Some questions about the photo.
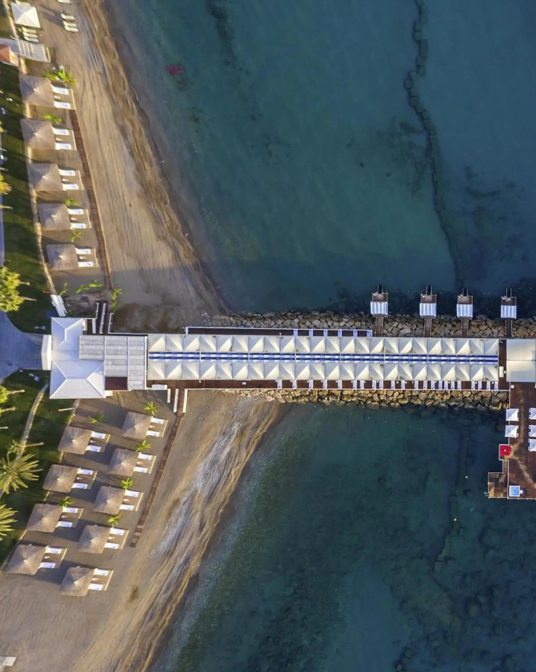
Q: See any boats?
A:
No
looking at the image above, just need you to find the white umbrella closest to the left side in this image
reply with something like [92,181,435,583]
[11,2,40,28]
